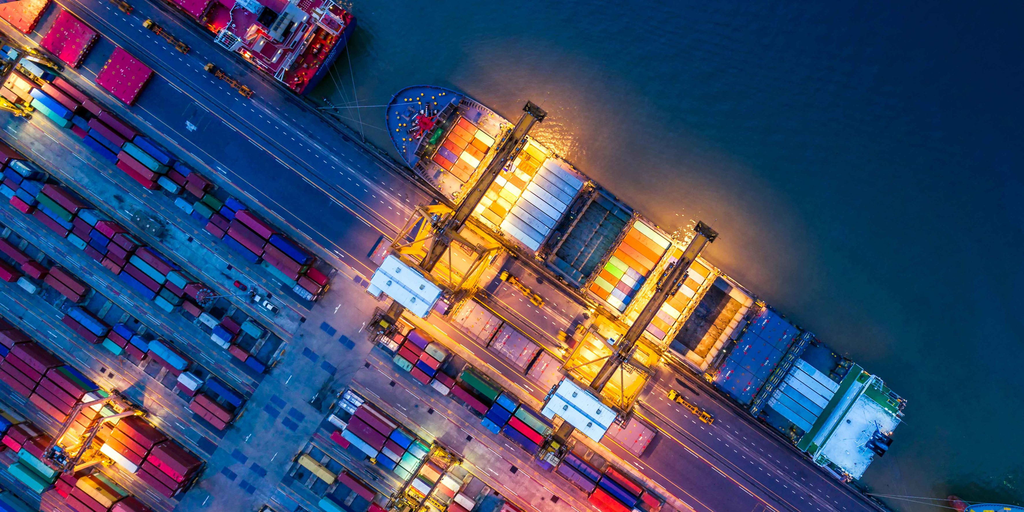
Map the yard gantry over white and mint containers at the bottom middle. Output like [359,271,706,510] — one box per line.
[389,438,460,512]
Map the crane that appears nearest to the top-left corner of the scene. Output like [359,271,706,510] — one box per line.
[0,36,68,123]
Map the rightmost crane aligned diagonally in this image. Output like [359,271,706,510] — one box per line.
[530,222,725,472]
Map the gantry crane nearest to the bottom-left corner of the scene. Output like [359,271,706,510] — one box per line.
[43,390,149,479]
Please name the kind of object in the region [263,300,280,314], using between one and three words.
vehicle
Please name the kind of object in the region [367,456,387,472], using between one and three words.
vehicle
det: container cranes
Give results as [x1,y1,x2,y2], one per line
[360,100,552,351]
[389,438,460,512]
[0,36,68,123]
[43,390,149,479]
[530,222,725,472]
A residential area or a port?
port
